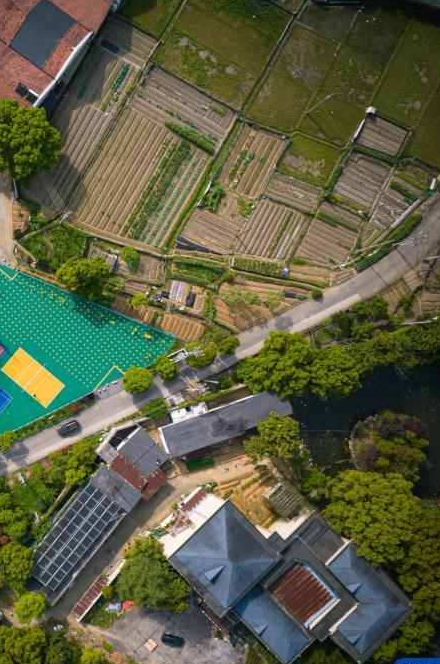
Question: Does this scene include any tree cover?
Yes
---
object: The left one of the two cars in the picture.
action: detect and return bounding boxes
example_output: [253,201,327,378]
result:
[56,419,80,435]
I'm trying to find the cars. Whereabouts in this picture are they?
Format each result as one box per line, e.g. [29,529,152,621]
[56,419,80,435]
[161,633,185,646]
